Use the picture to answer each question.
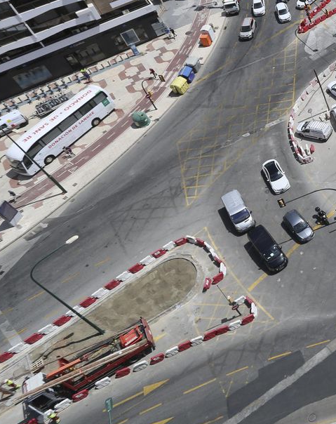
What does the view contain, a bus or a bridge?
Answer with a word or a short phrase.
bus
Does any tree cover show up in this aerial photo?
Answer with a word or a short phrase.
No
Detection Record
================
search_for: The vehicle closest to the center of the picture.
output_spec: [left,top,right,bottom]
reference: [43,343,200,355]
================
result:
[222,191,256,234]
